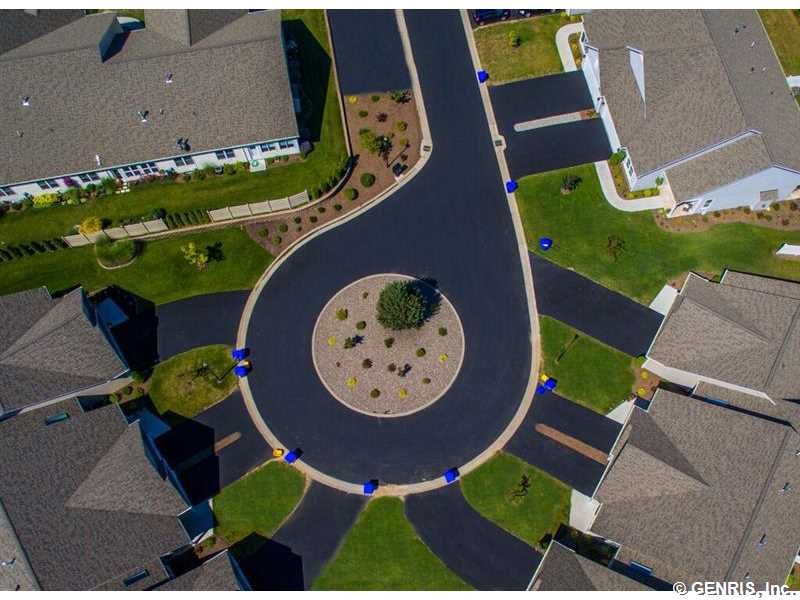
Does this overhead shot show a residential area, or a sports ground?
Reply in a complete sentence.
What you see here is a residential area.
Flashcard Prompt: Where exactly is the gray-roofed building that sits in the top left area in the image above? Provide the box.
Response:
[0,0,299,199]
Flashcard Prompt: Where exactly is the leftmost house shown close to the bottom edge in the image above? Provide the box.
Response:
[0,398,195,600]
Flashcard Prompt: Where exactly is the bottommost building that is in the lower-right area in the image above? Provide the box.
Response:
[521,541,670,600]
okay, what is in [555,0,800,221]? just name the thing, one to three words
house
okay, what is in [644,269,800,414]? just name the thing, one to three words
house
